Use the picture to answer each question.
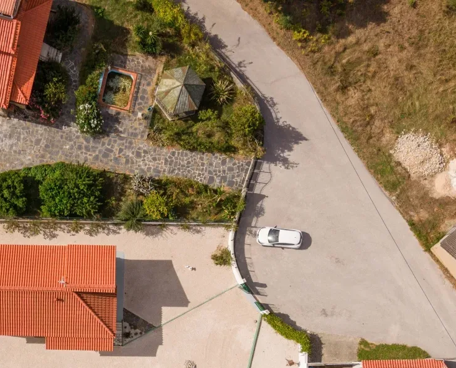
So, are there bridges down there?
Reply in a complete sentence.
No, the picture doesn't show any bridge.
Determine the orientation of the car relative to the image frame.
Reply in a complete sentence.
In this picture, the car lies from left to right.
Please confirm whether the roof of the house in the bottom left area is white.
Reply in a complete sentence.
No, the roof of the house in the bottom left area is actually orange.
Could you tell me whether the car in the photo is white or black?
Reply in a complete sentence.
In this view, the car is white.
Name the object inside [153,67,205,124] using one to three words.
gazebo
